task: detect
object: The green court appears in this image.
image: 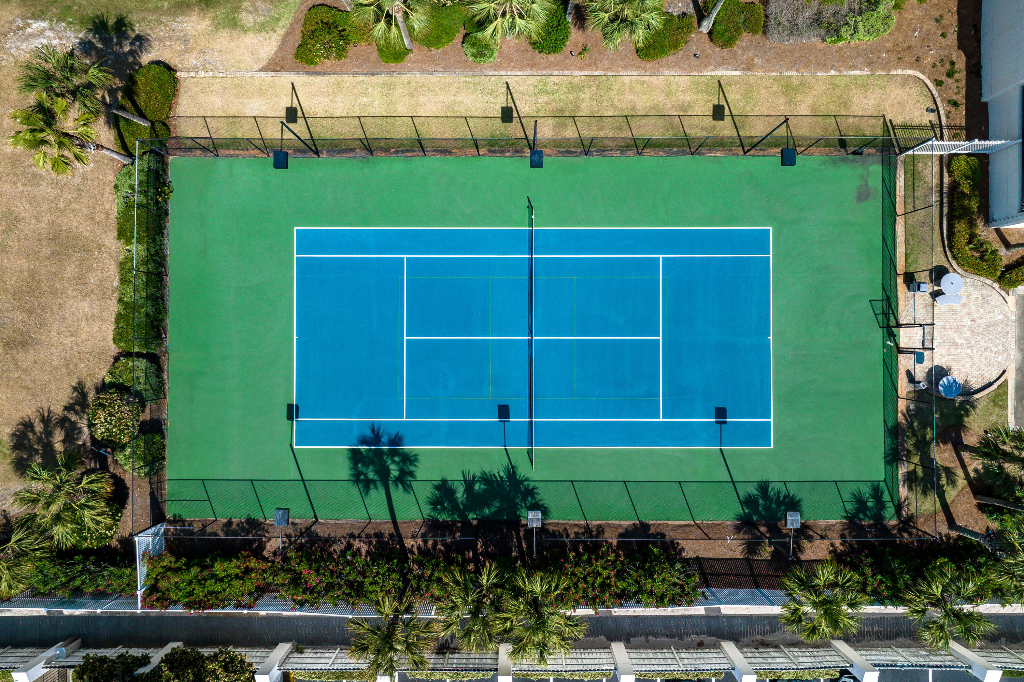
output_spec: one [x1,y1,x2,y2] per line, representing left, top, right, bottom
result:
[166,155,898,521]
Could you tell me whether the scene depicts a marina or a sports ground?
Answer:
sports ground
